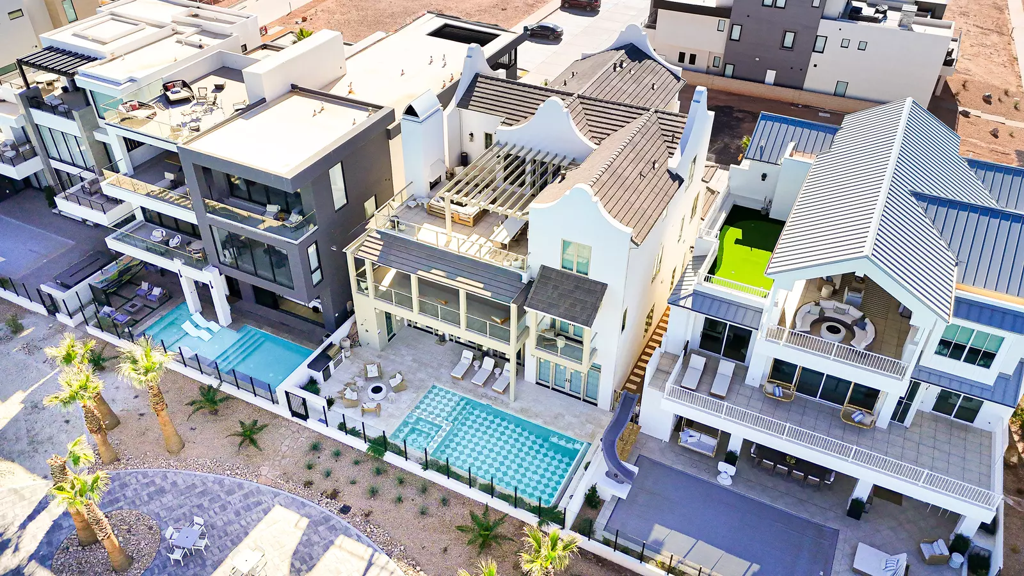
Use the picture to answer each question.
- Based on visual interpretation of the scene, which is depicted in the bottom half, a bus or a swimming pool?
swimming pool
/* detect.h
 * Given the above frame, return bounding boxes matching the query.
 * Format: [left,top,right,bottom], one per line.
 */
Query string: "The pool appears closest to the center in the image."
[390,385,602,509]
